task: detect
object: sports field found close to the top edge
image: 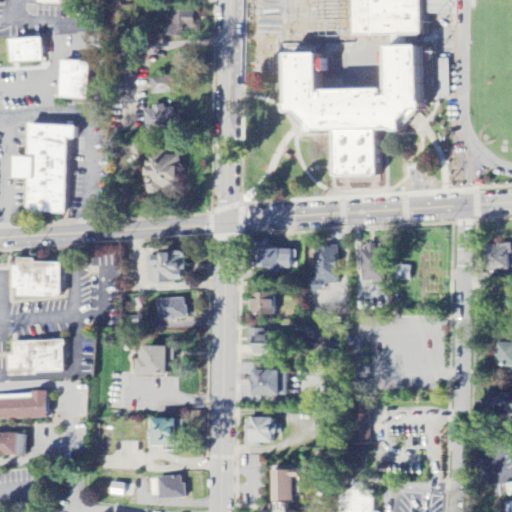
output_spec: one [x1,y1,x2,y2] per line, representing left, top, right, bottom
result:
[473,0,512,159]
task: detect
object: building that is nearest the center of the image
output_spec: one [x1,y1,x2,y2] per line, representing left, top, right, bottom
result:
[258,246,299,270]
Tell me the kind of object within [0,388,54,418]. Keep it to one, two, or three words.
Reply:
building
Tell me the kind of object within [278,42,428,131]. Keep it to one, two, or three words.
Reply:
building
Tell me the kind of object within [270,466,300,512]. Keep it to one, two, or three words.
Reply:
house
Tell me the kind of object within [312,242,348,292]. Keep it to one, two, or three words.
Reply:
house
